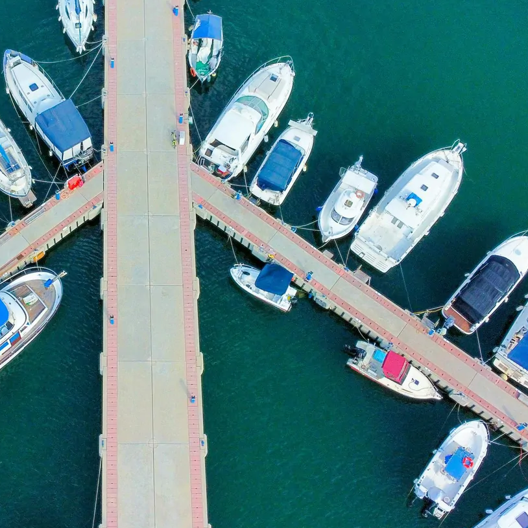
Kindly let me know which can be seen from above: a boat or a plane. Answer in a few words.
boat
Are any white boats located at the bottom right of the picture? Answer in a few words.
Yes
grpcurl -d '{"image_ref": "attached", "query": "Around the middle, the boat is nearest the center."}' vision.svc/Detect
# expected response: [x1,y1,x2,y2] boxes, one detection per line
[229,263,309,315]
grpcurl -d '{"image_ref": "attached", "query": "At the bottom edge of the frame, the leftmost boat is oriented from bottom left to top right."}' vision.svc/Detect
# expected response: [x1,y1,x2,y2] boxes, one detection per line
[413,419,488,522]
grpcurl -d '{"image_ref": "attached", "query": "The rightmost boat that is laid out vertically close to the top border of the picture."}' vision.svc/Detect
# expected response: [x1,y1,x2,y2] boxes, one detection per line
[188,10,224,87]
